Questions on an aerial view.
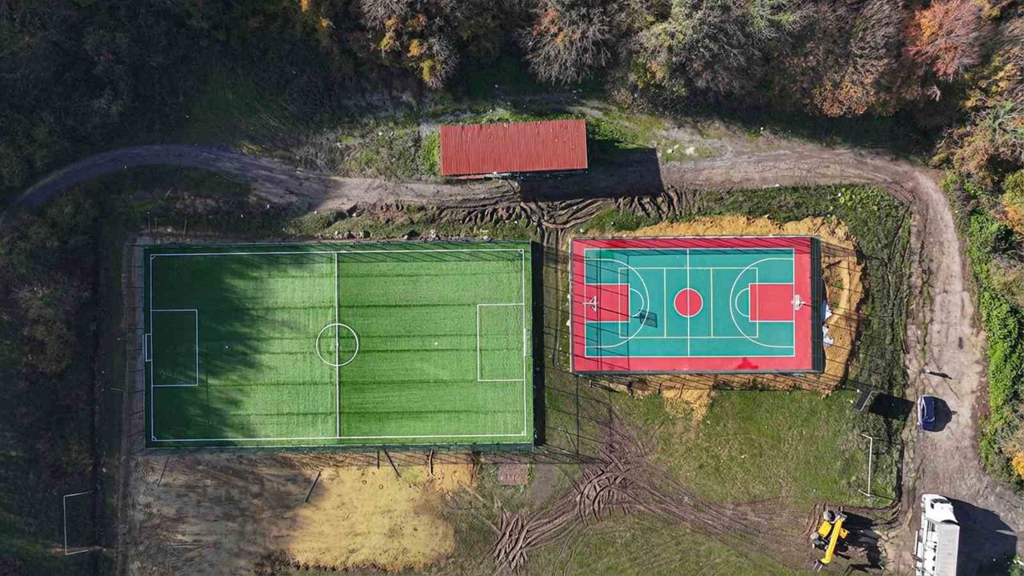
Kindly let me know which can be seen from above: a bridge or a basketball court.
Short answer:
basketball court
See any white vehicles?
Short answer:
Yes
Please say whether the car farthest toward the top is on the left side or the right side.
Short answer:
right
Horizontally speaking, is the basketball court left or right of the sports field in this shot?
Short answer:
to its right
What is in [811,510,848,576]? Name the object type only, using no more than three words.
work vehicle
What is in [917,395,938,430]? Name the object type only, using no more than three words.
car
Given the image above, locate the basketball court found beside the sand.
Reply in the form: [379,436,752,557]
[569,237,813,373]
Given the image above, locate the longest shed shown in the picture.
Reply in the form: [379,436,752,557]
[439,120,589,184]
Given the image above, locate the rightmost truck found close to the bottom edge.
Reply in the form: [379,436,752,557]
[916,494,957,576]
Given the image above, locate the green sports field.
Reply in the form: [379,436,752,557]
[143,240,533,449]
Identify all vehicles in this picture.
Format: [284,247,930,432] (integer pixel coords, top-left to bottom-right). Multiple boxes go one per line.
[811,510,848,576]
[917,395,938,430]
[916,494,957,576]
